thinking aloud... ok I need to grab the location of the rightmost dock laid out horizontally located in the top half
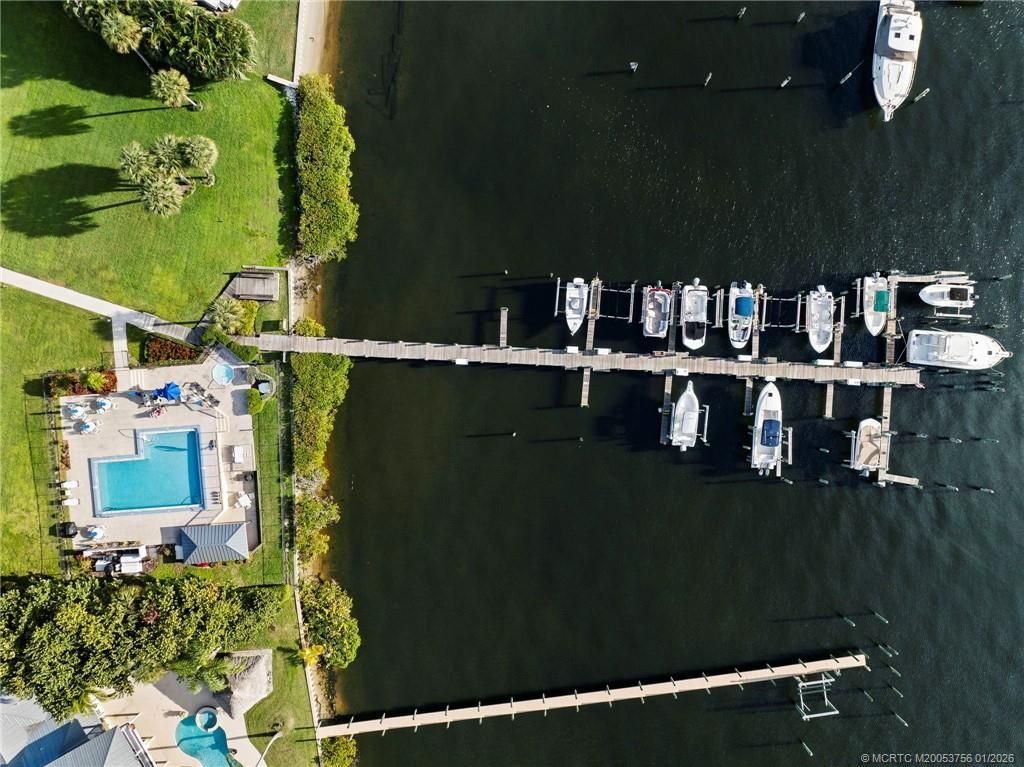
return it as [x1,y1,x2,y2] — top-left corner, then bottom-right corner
[885,269,970,286]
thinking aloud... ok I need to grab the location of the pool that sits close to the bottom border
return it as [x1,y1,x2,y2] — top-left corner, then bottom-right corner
[176,708,231,767]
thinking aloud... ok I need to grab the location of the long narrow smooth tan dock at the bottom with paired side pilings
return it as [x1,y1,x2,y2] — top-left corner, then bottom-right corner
[317,648,868,741]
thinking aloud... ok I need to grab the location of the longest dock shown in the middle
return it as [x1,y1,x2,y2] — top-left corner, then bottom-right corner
[262,333,920,389]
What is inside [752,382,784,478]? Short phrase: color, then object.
white boat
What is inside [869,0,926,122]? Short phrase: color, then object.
white boat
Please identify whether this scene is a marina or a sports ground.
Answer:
marina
